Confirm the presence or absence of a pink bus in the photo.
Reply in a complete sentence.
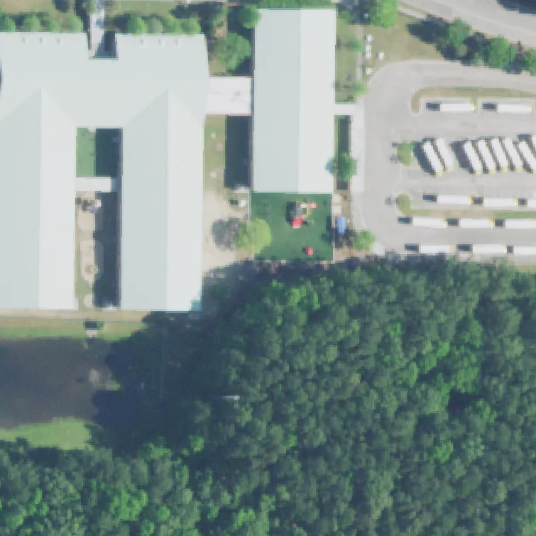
No, the photo shows no pink bus.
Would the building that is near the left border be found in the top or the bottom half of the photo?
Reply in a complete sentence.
Seen from above, the building that is near the left border lies in the top half of the view.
